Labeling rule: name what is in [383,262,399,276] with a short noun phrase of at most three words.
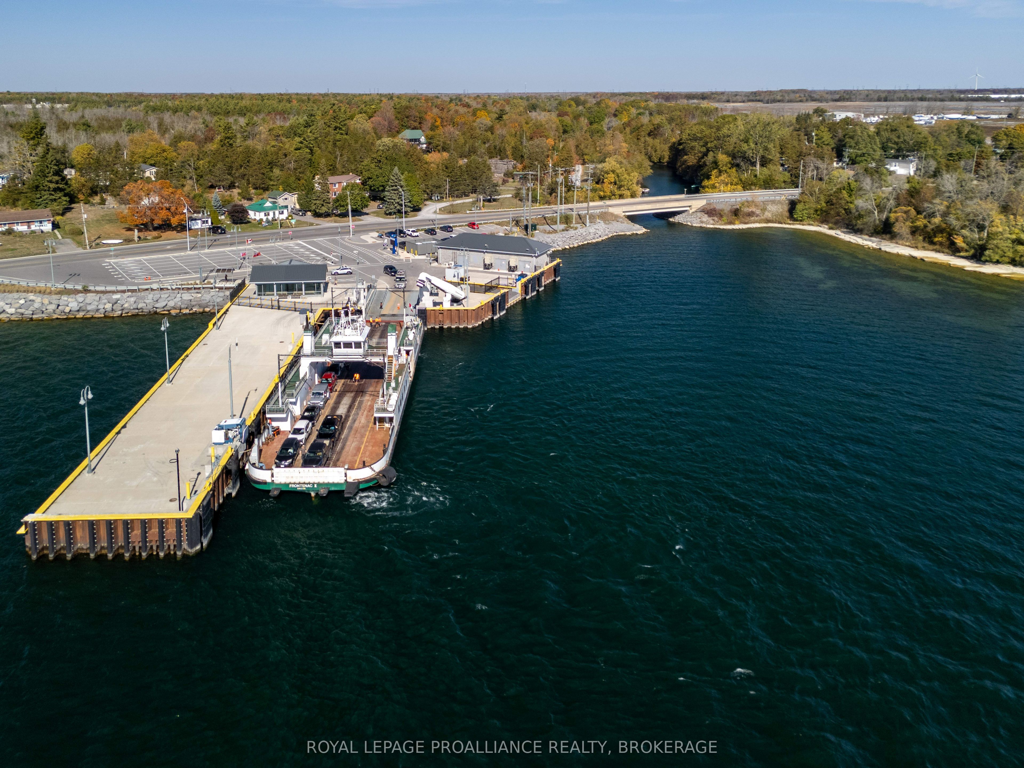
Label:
car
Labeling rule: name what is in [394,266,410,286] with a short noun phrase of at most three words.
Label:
vehicle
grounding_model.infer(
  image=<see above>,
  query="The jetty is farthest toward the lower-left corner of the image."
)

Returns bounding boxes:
[11,279,381,559]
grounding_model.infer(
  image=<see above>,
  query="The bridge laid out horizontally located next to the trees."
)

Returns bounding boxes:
[574,195,708,217]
